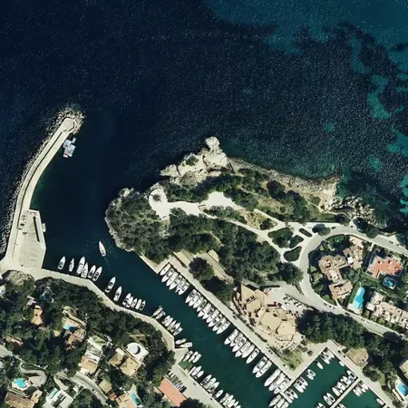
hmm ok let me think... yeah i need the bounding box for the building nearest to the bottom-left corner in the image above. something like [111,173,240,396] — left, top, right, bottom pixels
[3,376,42,408]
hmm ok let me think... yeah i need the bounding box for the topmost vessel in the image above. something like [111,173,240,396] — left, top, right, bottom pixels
[62,138,79,157]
